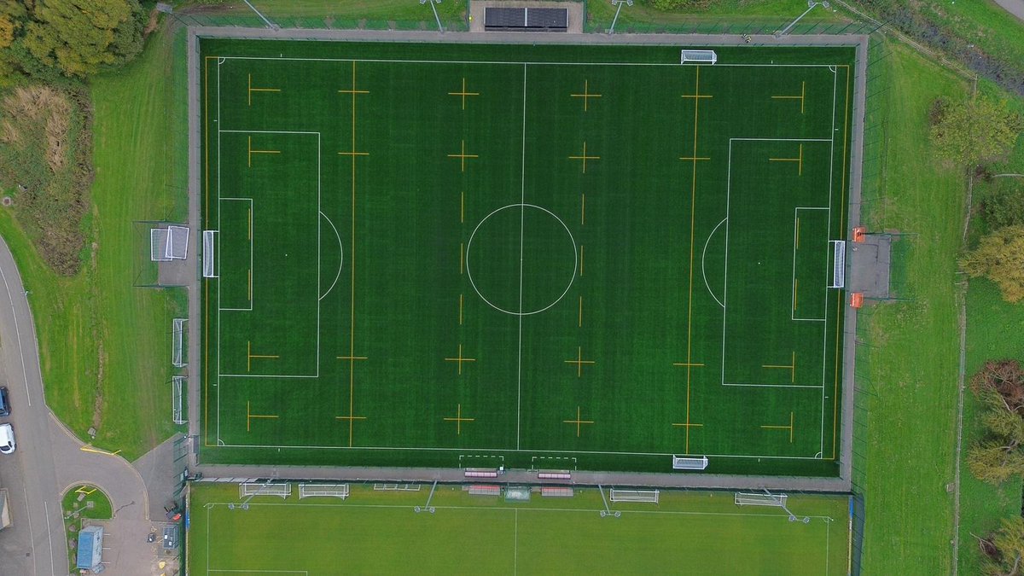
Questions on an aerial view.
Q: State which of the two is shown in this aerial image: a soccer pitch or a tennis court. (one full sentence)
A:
Visible in the photo is a soccer pitch.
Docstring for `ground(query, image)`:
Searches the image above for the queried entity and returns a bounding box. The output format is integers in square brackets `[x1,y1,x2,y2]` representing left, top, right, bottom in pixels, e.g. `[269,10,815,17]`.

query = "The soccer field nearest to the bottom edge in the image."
[187,479,851,576]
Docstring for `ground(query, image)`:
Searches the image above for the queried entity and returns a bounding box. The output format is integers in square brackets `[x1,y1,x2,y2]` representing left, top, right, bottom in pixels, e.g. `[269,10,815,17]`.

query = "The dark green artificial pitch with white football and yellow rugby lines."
[199,39,856,477]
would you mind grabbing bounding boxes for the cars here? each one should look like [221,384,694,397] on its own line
[0,388,10,416]
[0,424,15,454]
